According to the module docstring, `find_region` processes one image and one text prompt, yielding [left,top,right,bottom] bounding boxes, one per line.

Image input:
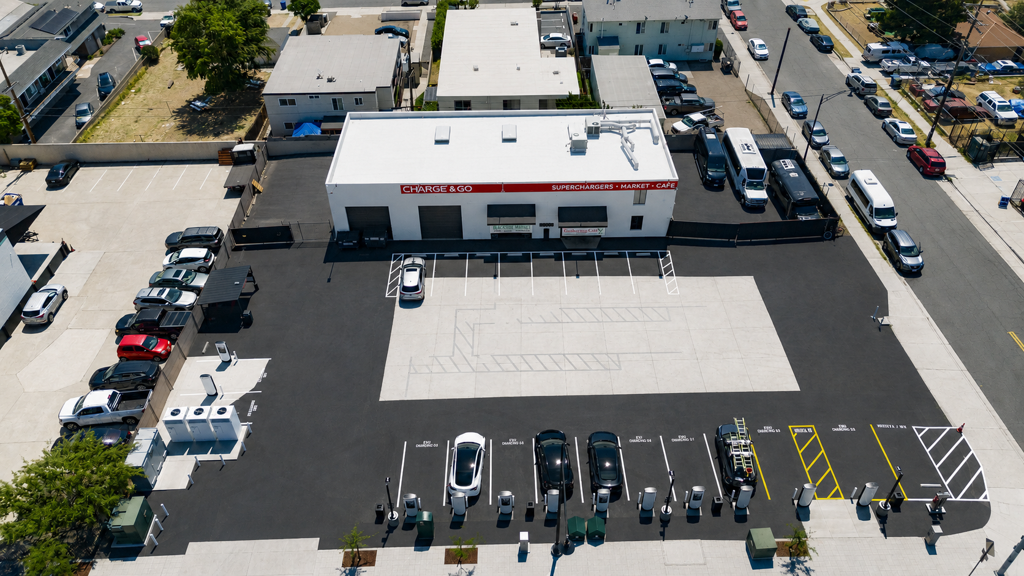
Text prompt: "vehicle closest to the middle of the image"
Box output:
[398,257,427,302]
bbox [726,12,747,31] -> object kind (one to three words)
car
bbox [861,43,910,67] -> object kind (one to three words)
vehicle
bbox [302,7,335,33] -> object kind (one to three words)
shed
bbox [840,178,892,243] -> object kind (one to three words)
van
